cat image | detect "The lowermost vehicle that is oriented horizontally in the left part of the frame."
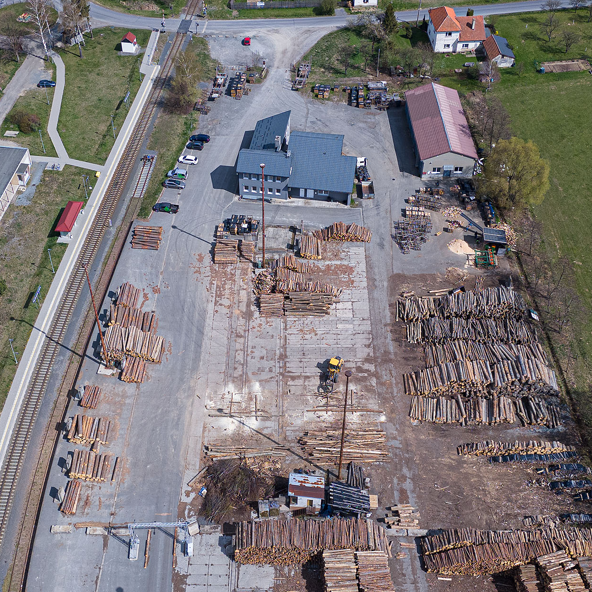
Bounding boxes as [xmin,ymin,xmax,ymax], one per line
[152,201,179,214]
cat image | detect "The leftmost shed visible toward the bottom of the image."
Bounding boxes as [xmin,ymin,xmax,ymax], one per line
[286,472,324,517]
